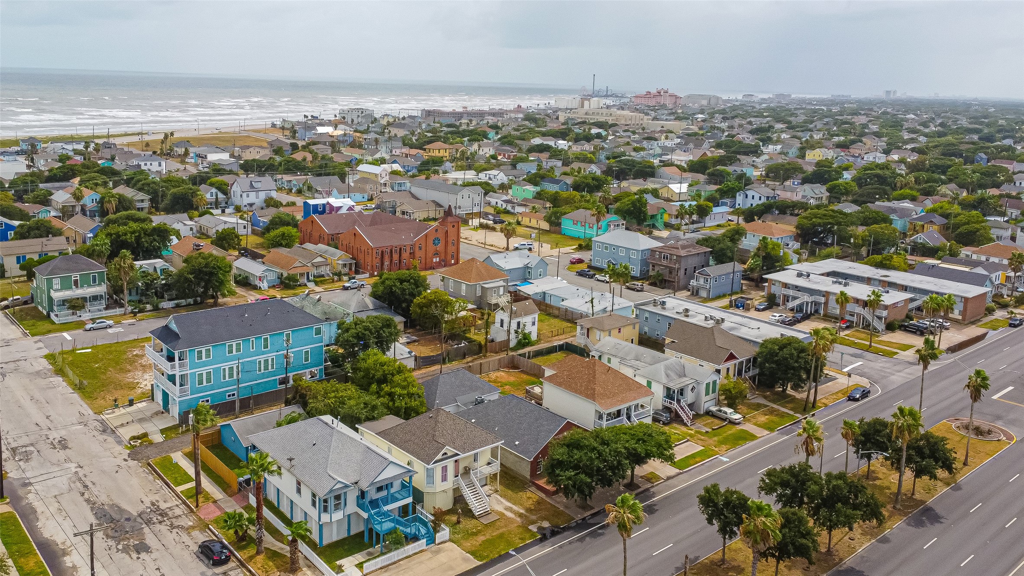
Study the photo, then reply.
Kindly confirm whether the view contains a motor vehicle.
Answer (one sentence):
Yes, the picture does show a motor vehicle.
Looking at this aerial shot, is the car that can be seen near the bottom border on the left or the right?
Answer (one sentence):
The car that can be seen near the bottom border sits on the left side.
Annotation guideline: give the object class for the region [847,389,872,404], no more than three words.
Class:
car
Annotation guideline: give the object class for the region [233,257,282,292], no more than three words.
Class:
house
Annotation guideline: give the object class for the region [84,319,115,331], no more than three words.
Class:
vehicle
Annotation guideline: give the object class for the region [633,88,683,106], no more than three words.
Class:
building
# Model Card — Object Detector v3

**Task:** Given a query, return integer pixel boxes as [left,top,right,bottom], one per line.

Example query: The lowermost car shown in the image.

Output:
[199,540,234,568]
